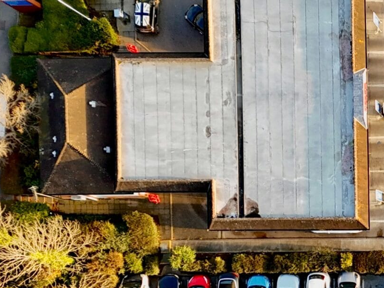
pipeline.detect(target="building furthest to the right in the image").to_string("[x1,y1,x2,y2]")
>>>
[35,0,373,233]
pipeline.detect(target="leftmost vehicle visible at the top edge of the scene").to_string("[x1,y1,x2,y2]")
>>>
[136,0,163,34]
